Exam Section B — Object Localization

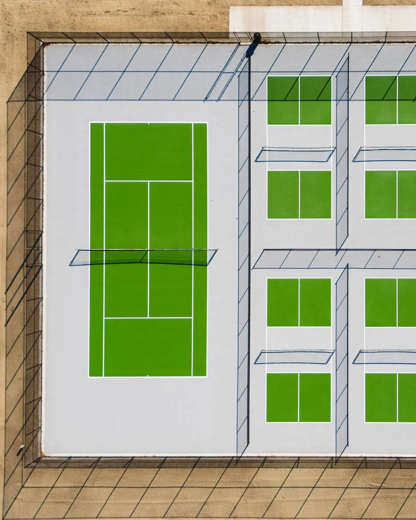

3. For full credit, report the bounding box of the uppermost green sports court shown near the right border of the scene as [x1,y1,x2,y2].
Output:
[365,75,416,218]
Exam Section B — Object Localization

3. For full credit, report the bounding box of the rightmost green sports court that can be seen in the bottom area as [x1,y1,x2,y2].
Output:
[365,278,416,423]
